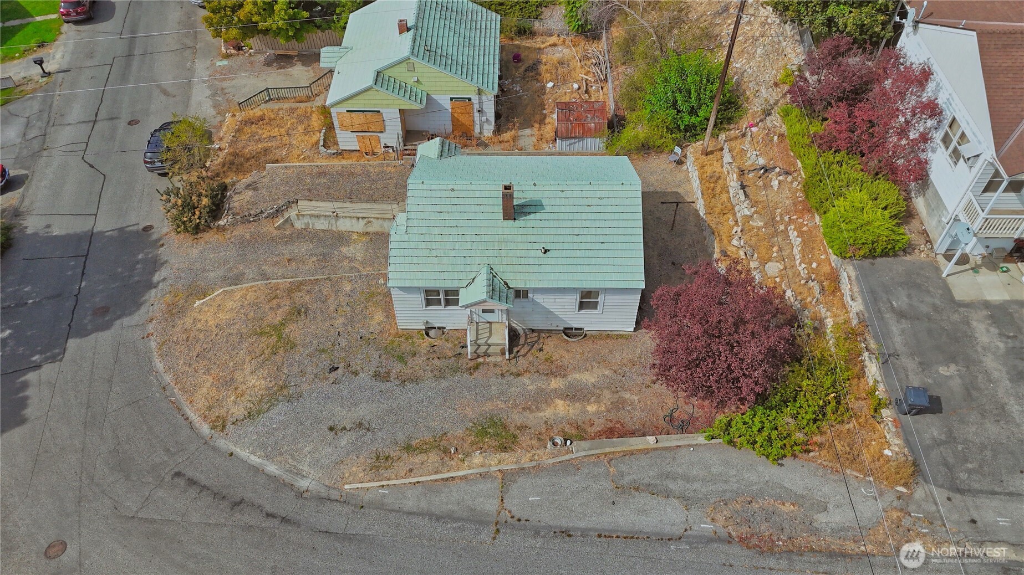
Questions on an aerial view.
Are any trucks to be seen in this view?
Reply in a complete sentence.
No, the scene contains no truck.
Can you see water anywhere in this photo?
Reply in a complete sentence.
No, the scene doesn't show any water.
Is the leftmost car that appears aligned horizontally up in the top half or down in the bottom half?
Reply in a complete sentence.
The leftmost car that appears aligned horizontally sits in the top half of the picture.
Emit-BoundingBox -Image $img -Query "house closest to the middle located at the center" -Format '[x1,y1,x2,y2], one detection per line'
[386,137,647,362]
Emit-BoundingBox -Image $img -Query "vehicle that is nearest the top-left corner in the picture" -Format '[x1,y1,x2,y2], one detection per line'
[56,0,105,22]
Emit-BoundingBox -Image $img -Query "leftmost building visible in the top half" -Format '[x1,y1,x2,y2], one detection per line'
[318,0,499,154]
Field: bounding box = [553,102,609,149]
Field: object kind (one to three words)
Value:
shed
